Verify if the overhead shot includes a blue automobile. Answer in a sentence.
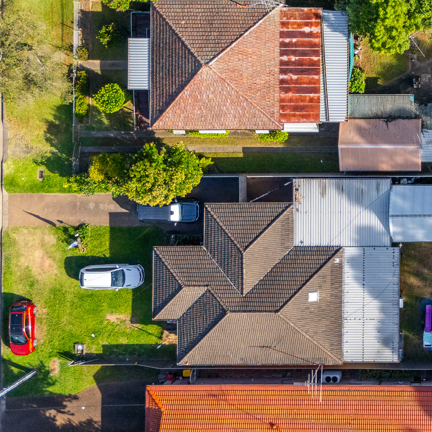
Yes, there is a blue automobile in the image.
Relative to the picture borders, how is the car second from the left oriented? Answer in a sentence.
I'd say the car second from the left is aligned horizontally in the picture.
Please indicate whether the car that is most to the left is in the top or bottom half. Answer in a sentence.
Seen from above, the car that is most to the left lies in the bottom half of the view.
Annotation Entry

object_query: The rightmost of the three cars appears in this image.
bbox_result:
[134,199,201,227]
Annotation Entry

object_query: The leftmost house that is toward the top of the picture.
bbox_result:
[128,0,354,134]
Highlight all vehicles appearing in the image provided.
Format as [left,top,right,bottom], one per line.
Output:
[134,199,201,227]
[4,300,36,353]
[80,263,144,292]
